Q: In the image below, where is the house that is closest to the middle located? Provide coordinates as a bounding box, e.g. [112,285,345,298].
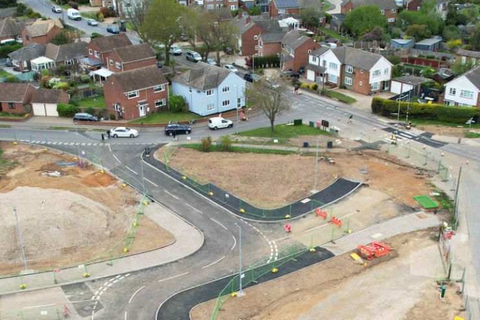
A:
[175,60,251,117]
